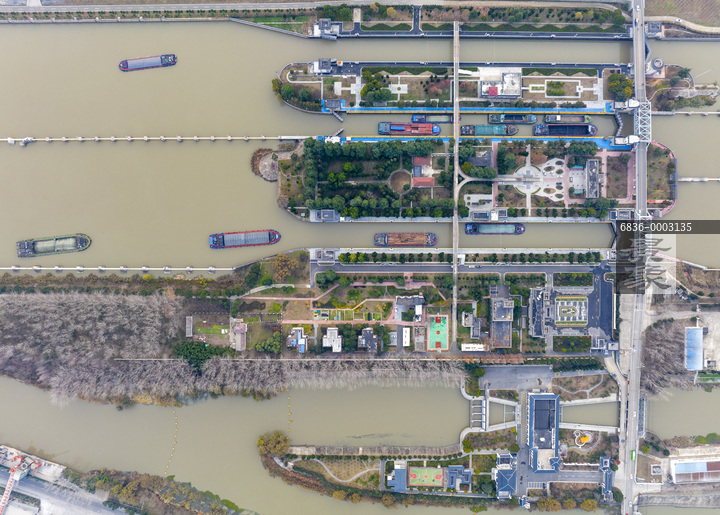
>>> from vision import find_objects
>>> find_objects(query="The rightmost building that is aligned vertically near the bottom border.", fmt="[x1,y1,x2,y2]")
[598,454,611,500]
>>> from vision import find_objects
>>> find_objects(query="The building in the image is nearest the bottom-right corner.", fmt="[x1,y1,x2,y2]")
[666,456,720,484]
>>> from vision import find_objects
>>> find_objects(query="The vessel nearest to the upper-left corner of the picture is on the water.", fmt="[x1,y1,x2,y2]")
[117,54,178,70]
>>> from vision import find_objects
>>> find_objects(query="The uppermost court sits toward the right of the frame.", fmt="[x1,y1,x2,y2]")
[428,314,449,352]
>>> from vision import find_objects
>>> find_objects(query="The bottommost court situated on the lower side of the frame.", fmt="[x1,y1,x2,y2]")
[408,466,444,486]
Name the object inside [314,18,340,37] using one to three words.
building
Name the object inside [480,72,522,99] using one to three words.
building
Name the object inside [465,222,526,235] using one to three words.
ship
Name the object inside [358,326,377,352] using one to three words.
house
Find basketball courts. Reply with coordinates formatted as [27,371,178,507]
[428,314,449,352]
[408,466,444,486]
